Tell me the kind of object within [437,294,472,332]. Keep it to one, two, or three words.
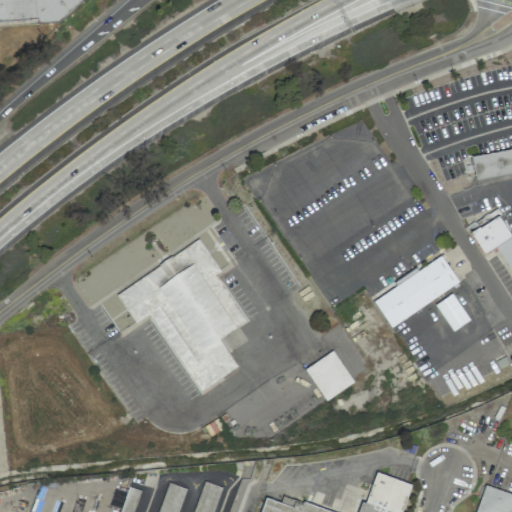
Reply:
building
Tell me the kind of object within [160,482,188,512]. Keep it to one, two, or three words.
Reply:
building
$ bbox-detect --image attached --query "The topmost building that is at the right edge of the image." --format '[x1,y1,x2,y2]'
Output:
[474,148,512,180]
